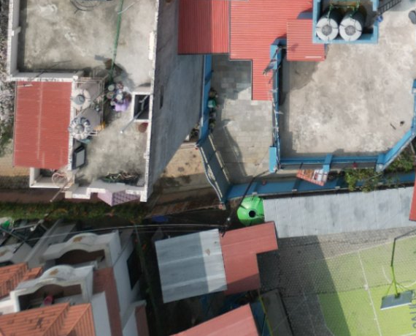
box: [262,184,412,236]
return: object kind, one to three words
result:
shed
